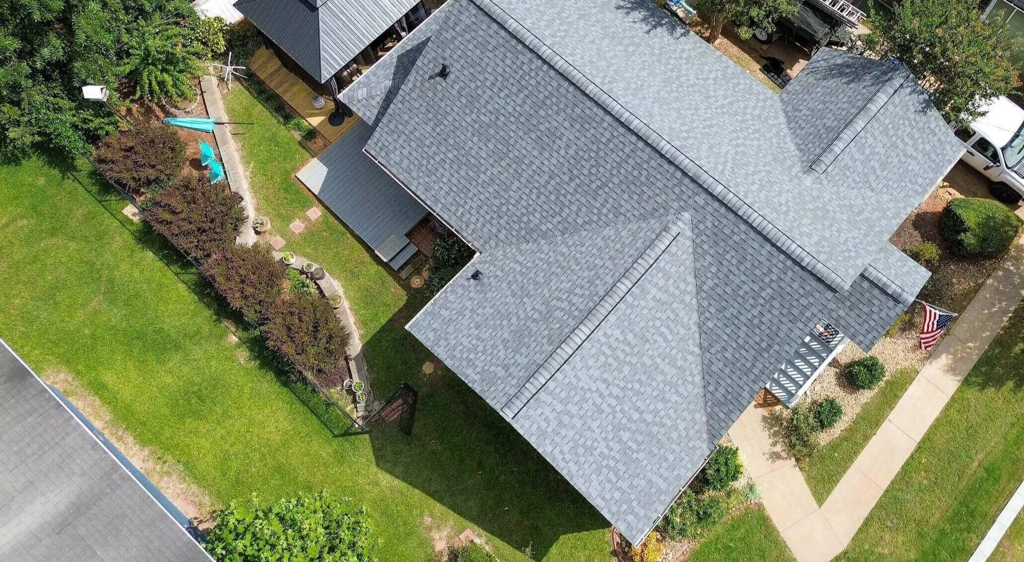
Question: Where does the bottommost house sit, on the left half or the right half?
left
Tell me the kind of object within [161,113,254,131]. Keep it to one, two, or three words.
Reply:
umbrella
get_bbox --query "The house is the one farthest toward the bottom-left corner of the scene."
[0,336,220,562]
